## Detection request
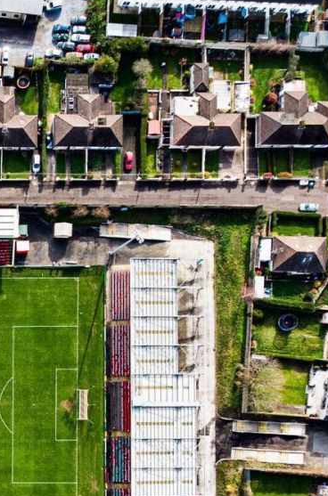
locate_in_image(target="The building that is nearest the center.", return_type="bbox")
[96,222,173,242]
